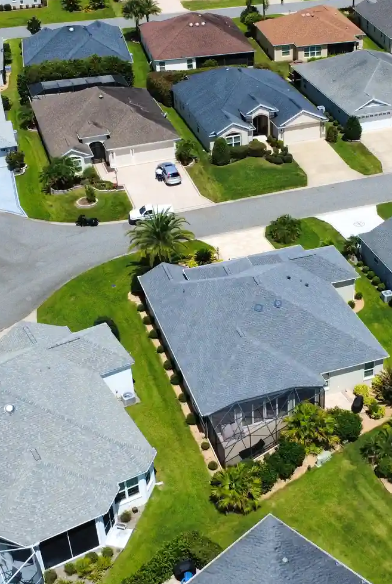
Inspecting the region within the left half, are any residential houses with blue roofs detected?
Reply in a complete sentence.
Yes, the scene does show a residential house with a blue roof within the left half.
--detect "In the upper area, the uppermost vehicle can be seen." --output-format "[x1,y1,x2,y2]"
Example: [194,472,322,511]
[158,160,179,181]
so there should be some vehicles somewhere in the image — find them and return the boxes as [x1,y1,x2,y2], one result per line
[130,201,179,224]
[77,214,97,225]
[158,160,179,181]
